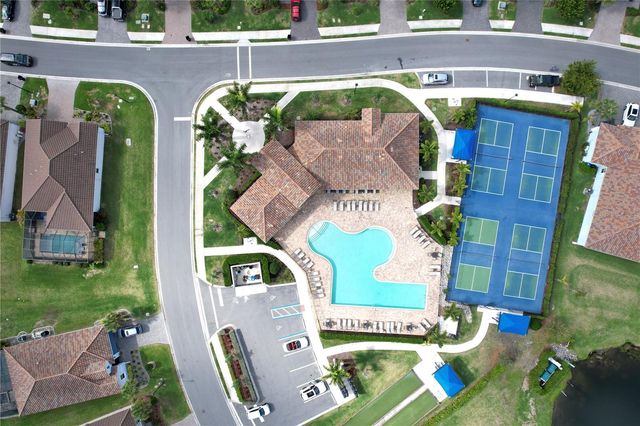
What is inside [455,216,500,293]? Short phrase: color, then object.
green sports court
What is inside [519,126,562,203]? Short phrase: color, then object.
blue sports court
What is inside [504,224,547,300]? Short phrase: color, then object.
blue sports court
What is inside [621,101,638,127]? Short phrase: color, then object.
white car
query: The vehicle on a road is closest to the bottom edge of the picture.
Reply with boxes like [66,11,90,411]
[246,403,272,421]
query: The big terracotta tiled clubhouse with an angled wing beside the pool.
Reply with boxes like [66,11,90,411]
[229,107,419,242]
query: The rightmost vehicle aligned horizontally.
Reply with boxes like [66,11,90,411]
[528,74,560,88]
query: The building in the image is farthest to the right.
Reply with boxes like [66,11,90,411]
[572,122,640,262]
